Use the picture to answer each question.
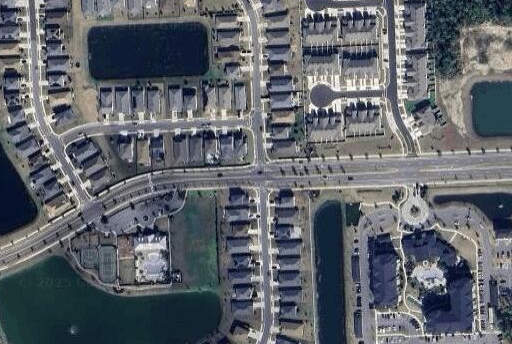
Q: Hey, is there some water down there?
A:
Yes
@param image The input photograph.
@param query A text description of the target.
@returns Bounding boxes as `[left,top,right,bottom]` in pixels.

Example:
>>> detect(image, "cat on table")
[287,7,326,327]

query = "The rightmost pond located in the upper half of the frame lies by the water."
[471,80,512,138]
